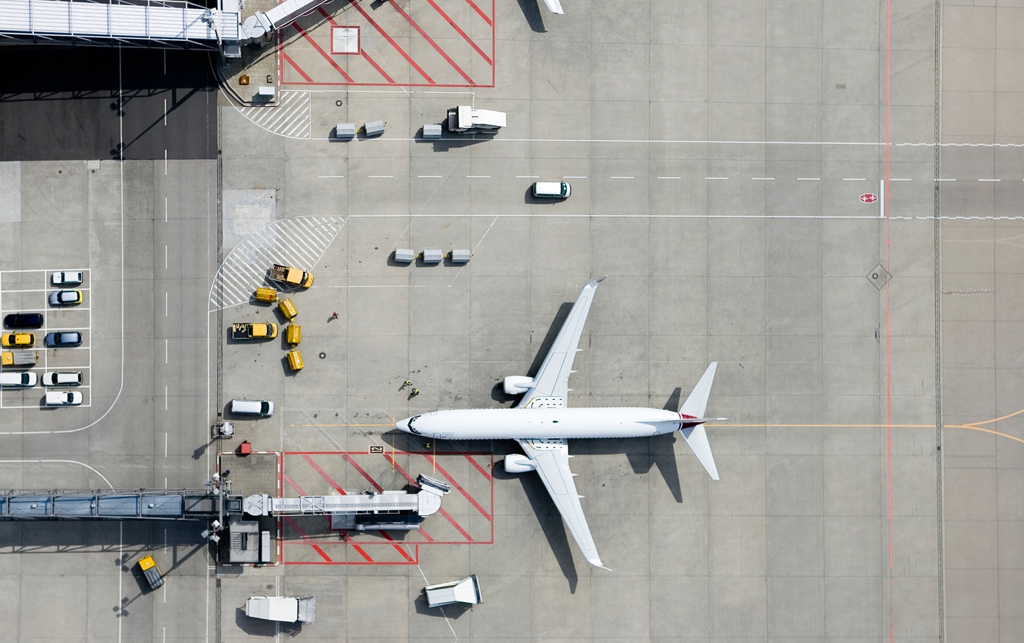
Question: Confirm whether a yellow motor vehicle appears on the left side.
Yes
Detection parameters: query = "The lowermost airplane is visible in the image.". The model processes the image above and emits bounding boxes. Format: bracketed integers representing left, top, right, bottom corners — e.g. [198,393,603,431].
[396,275,726,571]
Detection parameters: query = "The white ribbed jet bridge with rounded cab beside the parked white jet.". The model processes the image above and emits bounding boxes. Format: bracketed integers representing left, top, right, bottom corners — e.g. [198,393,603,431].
[245,474,453,530]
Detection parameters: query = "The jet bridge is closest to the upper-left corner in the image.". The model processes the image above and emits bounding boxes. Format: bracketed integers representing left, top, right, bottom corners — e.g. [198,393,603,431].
[242,0,328,43]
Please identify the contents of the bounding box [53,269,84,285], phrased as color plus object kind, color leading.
white car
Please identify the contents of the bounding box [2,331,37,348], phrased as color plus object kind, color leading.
yellow car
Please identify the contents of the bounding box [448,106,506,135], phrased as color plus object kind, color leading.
white truck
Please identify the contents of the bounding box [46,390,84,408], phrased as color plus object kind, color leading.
white vehicle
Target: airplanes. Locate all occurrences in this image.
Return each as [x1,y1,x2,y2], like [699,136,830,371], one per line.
[396,275,726,571]
[544,0,563,14]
